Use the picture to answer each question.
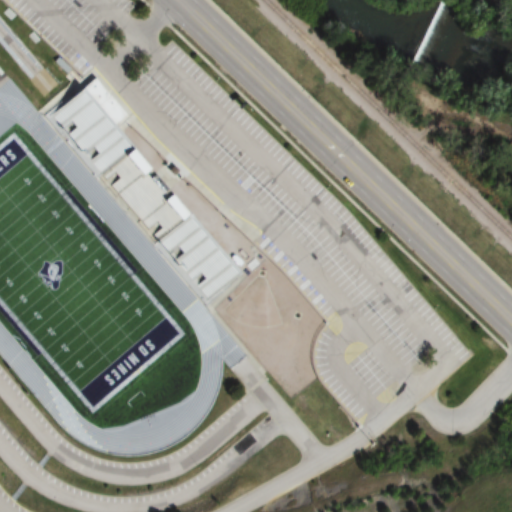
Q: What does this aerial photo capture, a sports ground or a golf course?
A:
sports ground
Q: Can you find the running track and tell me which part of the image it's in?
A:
left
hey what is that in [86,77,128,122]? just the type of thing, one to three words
building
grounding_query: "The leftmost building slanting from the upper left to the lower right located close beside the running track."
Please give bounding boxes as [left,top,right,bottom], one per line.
[0,23,58,96]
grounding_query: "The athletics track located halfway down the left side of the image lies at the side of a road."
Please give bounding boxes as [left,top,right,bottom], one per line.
[0,76,247,457]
